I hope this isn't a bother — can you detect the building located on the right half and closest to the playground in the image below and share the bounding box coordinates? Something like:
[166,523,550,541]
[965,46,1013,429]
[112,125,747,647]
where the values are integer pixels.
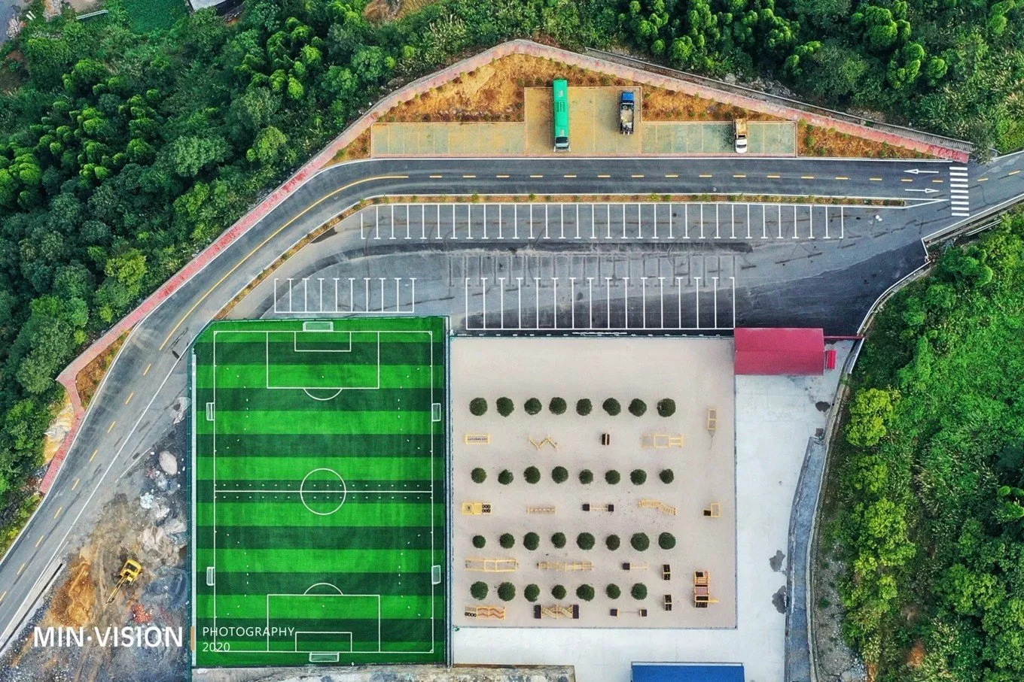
[734,327,827,375]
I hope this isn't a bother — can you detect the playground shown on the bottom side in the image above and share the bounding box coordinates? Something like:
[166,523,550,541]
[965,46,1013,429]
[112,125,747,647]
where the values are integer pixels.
[452,338,737,630]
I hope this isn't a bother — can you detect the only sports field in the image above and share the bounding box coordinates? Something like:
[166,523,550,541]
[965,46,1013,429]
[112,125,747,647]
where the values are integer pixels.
[196,317,446,667]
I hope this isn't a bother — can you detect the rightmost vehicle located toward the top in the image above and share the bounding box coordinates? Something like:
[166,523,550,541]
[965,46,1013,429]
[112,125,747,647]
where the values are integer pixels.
[736,116,750,152]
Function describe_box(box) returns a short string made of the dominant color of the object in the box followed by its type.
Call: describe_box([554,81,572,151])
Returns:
green vehicle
